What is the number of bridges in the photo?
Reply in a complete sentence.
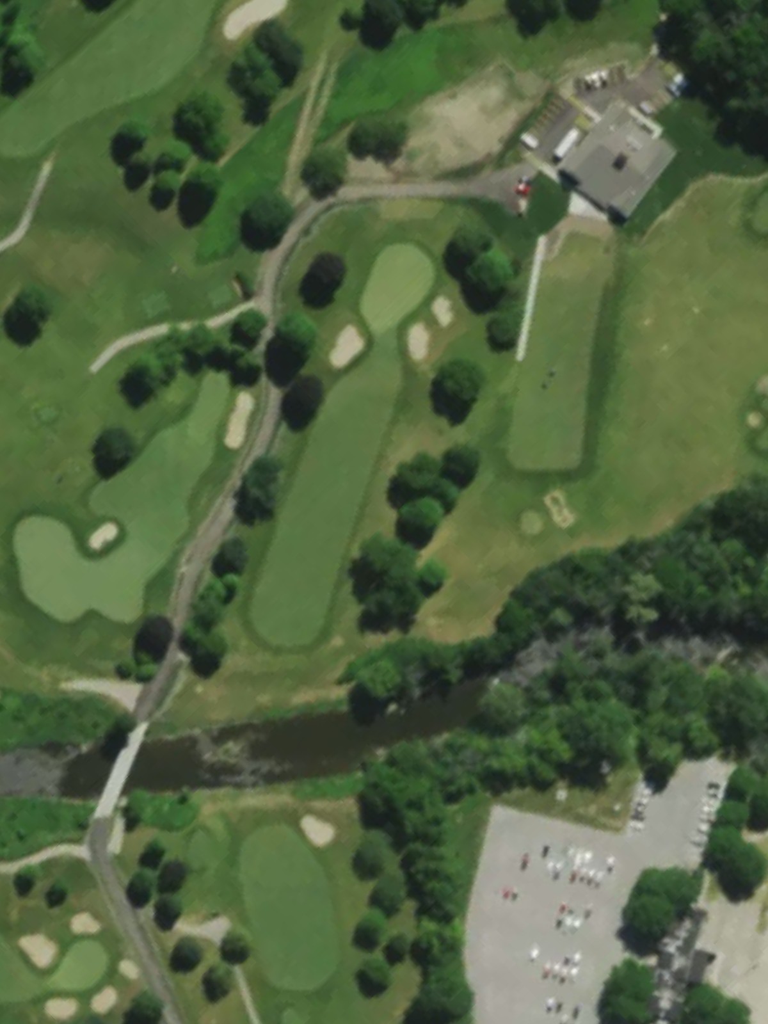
My tally gives 1 bridge in this photo.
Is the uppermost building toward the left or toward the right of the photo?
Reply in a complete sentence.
It is on the right.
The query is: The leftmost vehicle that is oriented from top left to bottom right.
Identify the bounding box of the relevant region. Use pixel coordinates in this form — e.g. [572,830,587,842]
[522,133,537,147]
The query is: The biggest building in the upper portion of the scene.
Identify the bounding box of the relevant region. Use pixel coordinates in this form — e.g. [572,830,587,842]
[558,95,677,217]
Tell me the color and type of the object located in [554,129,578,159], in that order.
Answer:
white bus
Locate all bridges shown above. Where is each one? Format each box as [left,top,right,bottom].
[95,726,147,819]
